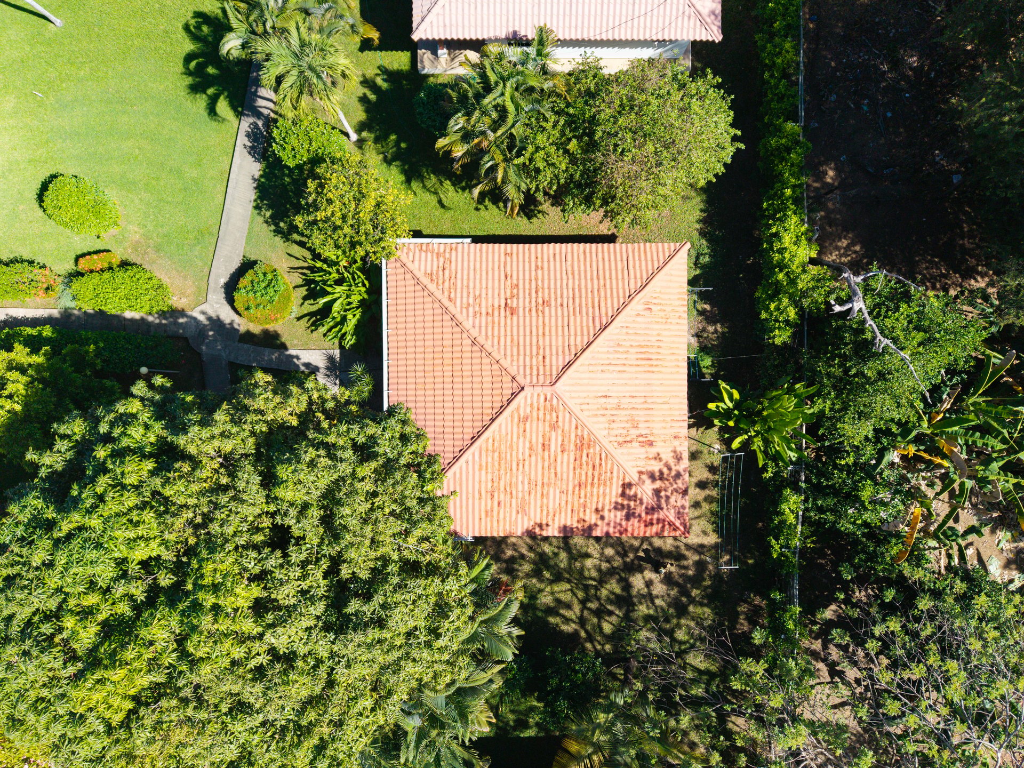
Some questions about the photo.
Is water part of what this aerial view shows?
No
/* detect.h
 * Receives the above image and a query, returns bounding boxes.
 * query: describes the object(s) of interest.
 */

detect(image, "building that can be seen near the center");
[382,237,694,541]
